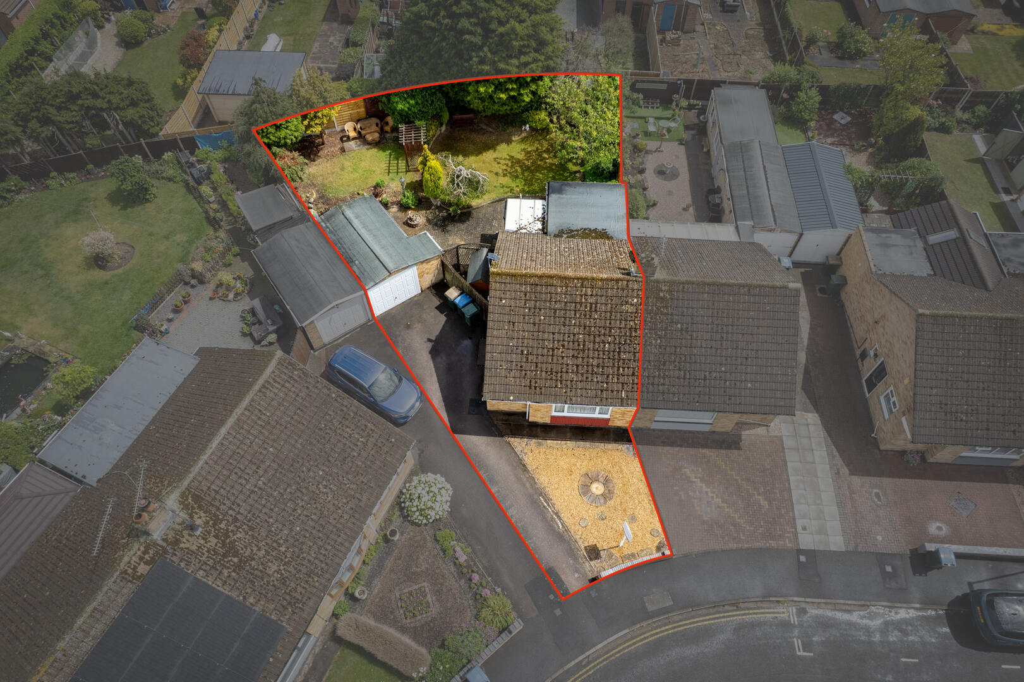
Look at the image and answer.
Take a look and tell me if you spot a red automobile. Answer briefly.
No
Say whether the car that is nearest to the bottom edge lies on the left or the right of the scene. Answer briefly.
right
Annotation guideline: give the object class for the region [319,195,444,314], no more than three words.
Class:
building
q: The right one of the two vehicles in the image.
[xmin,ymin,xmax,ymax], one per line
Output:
[964,591,1024,648]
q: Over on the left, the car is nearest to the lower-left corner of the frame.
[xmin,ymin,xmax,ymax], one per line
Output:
[322,340,425,425]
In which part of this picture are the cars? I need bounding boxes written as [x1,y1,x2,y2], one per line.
[322,340,425,425]
[964,591,1024,648]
